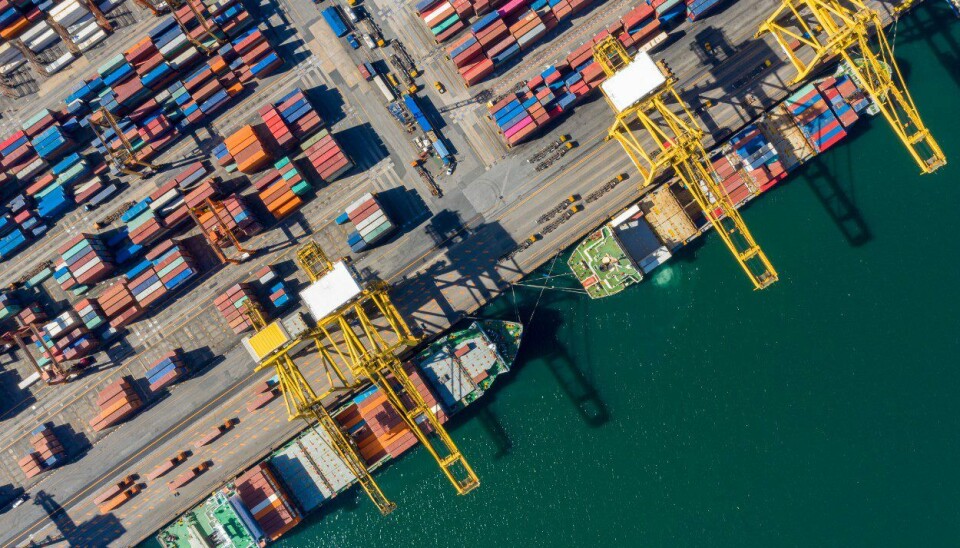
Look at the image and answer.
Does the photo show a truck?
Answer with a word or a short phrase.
Yes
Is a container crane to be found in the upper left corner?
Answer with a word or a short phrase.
Yes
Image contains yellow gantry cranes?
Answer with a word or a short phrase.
Yes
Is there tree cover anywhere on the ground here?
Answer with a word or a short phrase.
No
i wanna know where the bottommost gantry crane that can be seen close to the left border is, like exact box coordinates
[9,321,90,384]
